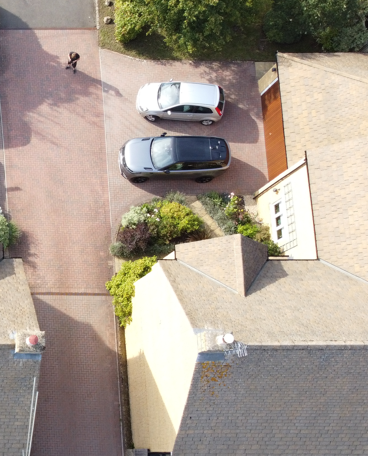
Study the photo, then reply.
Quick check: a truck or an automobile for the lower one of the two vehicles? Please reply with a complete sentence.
Looking closely, the lower one of the two vehicles is an automobile.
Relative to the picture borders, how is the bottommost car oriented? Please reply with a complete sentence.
The bottommost car is laid out from side to side.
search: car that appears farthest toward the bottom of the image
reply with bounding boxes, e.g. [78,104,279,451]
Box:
[117,131,232,184]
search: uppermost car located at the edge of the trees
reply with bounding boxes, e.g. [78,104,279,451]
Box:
[136,77,225,127]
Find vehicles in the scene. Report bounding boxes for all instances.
[136,77,225,127]
[117,131,232,184]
